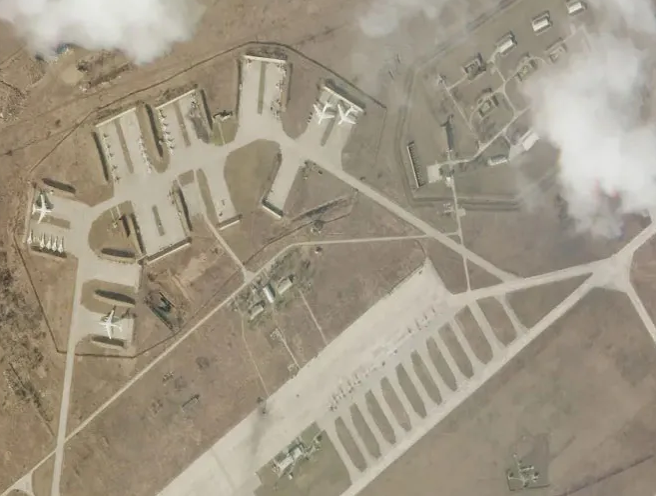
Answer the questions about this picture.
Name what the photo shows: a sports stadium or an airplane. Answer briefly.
airplane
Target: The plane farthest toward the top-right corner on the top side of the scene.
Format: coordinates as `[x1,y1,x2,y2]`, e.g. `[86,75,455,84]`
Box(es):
[338,103,357,124]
